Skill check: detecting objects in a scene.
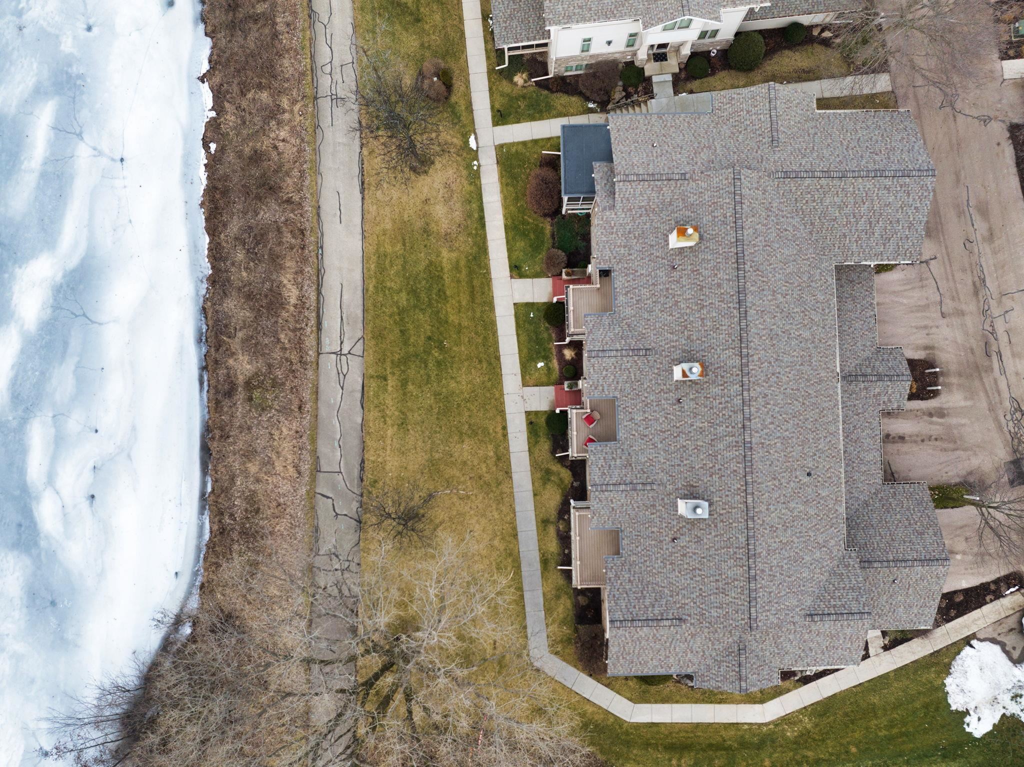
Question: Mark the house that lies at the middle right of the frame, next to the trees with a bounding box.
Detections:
[543,84,951,695]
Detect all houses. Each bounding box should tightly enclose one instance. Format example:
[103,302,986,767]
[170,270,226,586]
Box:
[491,0,864,81]
[543,84,951,695]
